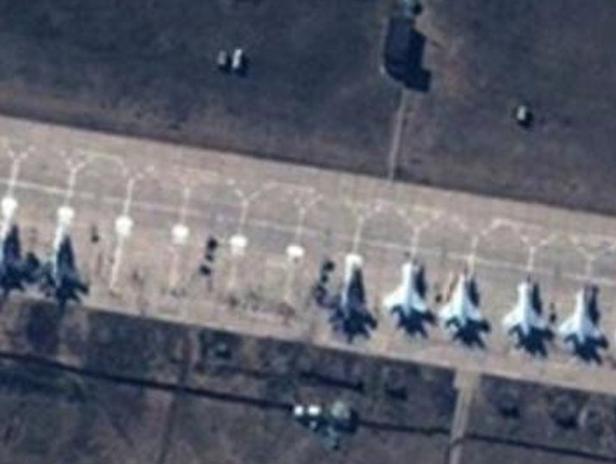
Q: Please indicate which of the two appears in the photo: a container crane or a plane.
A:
plane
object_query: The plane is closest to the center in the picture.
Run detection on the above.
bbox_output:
[328,266,372,332]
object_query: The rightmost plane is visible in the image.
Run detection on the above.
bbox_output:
[559,283,603,352]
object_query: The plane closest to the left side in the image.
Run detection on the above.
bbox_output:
[0,221,29,289]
